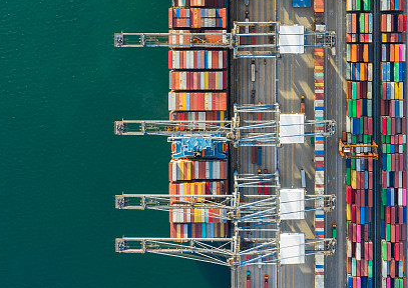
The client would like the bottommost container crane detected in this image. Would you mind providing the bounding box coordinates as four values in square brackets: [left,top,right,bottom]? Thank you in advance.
[114,203,337,273]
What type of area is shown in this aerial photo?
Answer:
port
